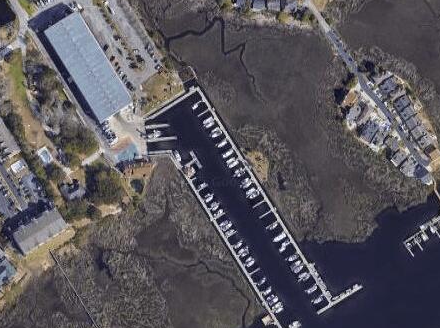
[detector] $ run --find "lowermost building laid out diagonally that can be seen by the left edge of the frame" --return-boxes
[12,207,68,254]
